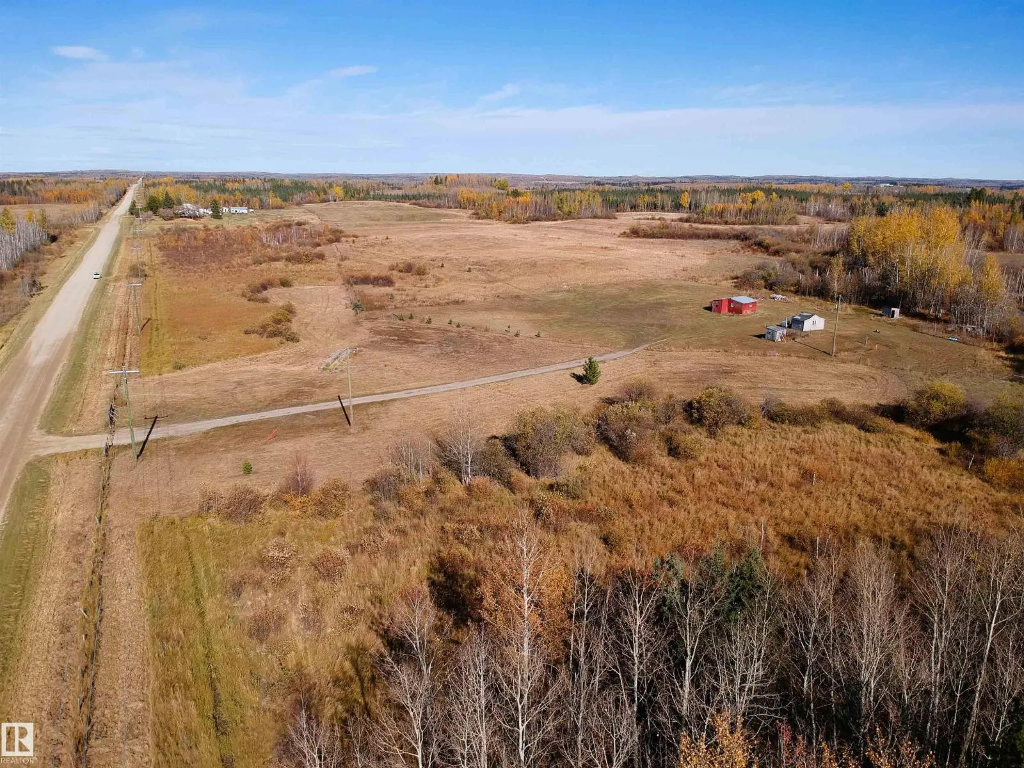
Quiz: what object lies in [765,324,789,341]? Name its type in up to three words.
shed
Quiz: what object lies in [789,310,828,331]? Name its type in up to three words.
building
